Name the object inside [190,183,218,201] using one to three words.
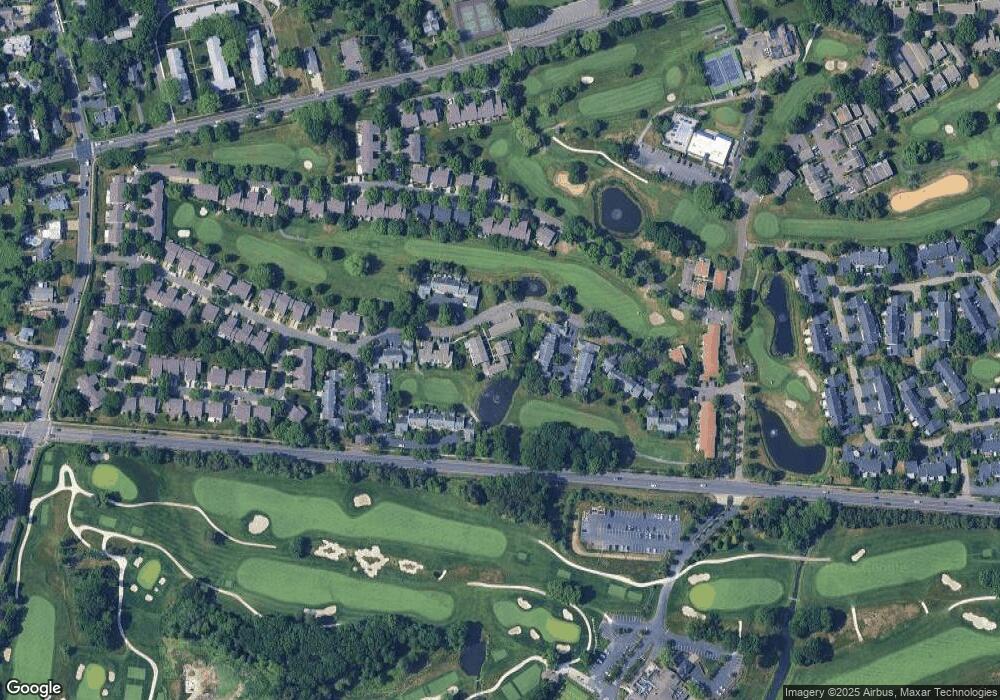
house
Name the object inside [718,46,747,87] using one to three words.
tennis court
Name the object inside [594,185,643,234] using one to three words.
pond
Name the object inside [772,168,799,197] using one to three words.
building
